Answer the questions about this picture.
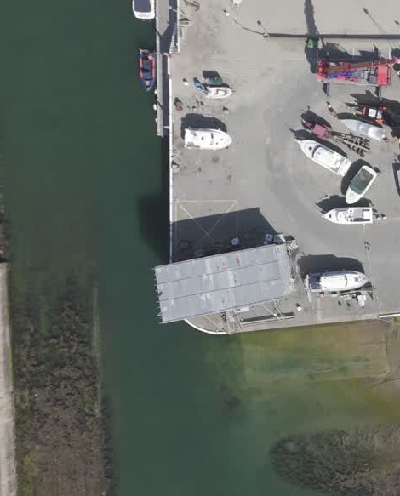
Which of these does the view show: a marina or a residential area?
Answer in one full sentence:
This looks like a marina.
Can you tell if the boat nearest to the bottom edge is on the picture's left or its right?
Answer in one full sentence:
You can find the boat nearest to the bottom edge on the right side of the picture.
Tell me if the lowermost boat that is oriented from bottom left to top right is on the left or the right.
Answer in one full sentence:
The lowermost boat that is oriented from bottom left to top right appears in the right half of the scene.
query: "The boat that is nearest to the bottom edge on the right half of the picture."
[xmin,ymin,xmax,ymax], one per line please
[301,271,367,295]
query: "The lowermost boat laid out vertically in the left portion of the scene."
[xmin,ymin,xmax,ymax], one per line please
[137,44,155,90]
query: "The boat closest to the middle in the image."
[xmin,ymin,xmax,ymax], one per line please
[185,130,234,150]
